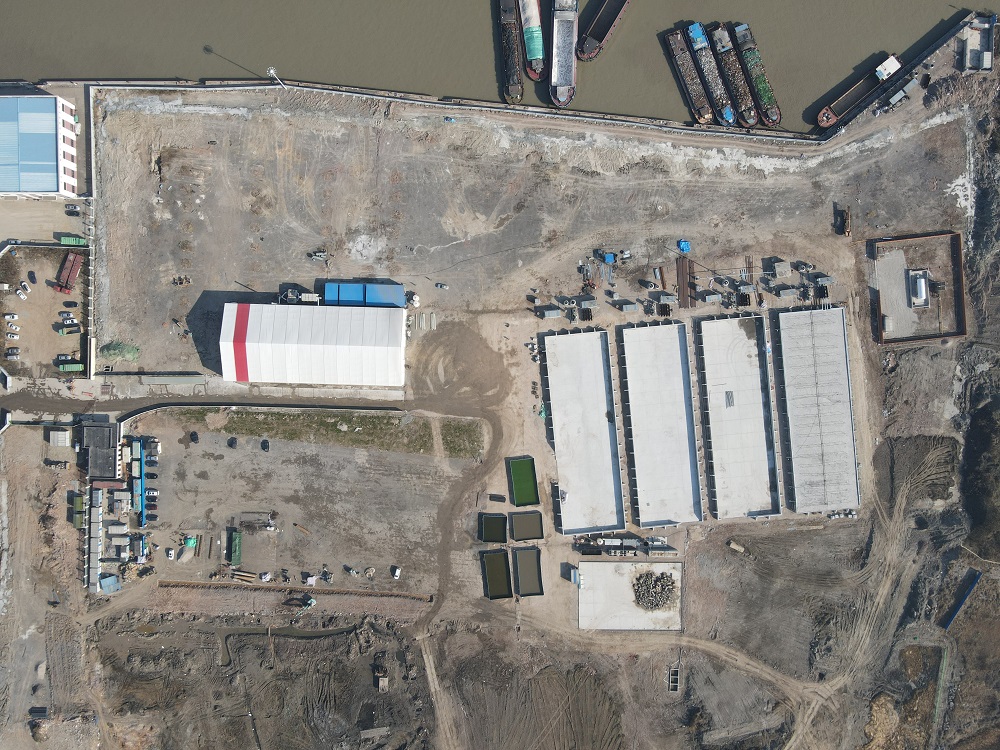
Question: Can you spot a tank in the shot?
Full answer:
Yes, there's a tank down there.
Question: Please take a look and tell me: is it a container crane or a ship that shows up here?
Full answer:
The image shows a ship.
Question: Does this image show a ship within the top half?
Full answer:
Yes, within the top half there is a ship.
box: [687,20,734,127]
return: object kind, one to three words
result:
ship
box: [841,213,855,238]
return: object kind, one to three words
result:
work vehicle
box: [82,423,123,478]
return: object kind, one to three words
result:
building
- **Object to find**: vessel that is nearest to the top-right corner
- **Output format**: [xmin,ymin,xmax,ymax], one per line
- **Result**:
[814,51,908,127]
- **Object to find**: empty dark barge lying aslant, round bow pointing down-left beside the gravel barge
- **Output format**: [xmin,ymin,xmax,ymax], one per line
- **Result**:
[580,0,630,60]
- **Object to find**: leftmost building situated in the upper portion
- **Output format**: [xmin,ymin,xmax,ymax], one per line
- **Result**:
[0,96,75,201]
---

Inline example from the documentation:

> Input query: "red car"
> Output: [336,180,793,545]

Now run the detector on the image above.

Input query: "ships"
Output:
[687,20,734,127]
[551,0,578,106]
[710,23,757,128]
[666,30,712,124]
[580,0,630,60]
[521,0,548,81]
[734,21,778,128]
[814,51,908,127]
[499,0,524,104]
